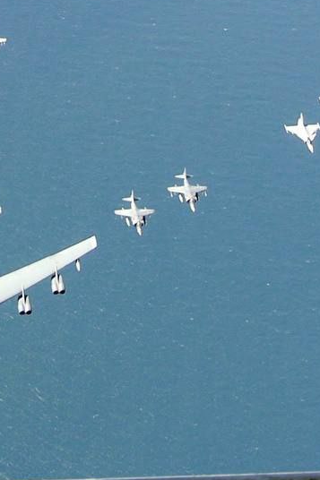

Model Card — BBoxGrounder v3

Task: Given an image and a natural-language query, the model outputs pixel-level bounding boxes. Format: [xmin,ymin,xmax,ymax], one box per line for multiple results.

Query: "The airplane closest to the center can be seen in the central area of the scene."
[115,191,154,235]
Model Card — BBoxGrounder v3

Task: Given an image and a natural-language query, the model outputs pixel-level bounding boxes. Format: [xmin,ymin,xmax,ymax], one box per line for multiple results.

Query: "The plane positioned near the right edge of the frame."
[284,112,320,152]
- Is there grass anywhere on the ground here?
No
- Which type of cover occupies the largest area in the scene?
water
